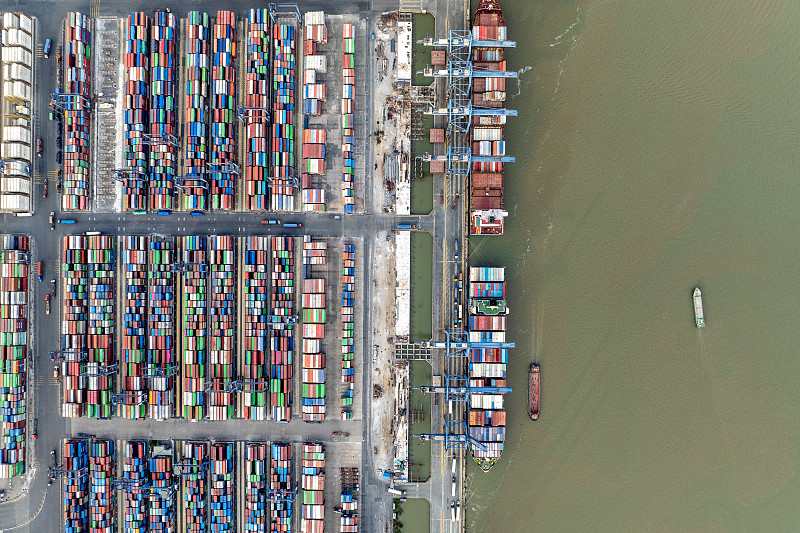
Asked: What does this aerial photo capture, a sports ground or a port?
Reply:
port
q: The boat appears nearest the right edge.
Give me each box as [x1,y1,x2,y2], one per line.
[691,288,705,327]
